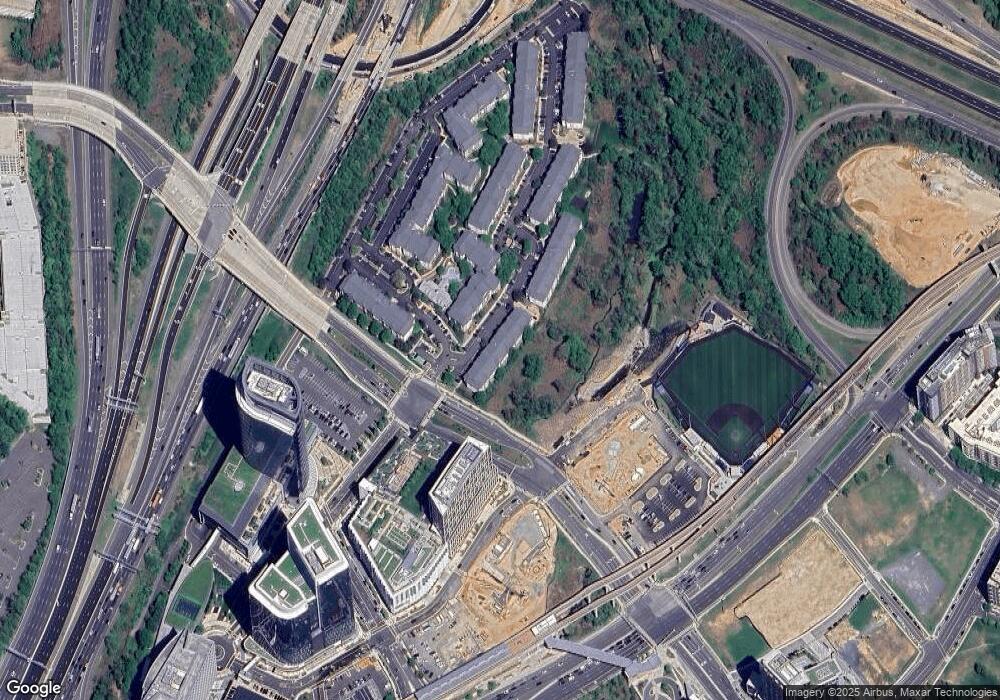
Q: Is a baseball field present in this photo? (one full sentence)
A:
Yes, you can see a baseball field in this photo.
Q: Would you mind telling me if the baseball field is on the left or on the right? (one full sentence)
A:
The baseball field appears in the right half of the scene.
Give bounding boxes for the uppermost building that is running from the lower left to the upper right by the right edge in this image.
[916,321,1000,421]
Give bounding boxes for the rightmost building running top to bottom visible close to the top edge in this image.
[562,31,589,129]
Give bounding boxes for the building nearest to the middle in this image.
[463,306,532,392]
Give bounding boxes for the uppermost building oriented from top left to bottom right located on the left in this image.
[339,270,416,341]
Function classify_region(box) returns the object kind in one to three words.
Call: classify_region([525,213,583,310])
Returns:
building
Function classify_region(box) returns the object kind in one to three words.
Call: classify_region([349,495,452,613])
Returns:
building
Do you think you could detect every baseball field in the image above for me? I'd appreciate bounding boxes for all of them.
[657,322,814,466]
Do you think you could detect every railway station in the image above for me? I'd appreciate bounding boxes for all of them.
[414,616,558,700]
